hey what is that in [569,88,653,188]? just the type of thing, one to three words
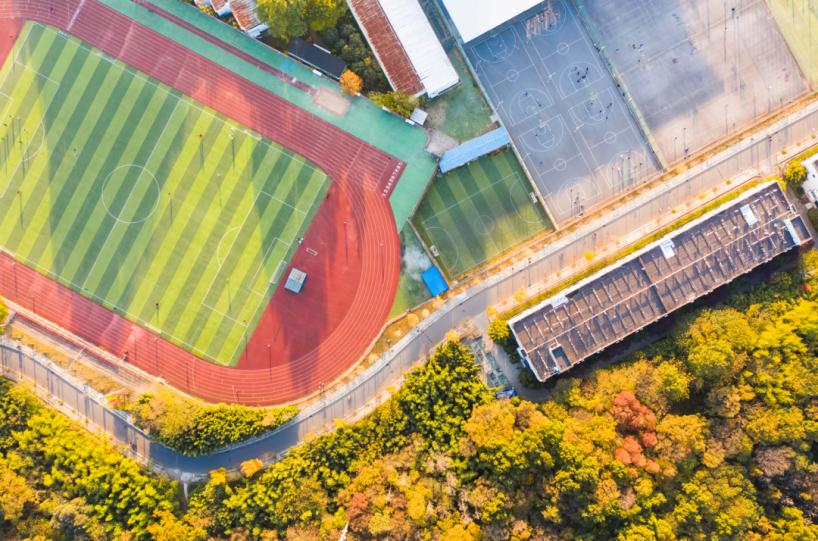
basketball court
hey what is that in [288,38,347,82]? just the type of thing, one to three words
building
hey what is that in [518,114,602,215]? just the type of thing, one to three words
basketball court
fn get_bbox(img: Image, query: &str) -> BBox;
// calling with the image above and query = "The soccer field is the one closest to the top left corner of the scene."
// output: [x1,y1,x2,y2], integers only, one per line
[0,20,332,368]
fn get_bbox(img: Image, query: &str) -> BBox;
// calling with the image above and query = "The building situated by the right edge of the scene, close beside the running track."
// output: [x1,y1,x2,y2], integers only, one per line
[506,184,813,382]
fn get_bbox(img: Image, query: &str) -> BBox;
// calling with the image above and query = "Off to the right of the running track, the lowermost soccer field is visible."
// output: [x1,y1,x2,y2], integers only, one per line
[411,141,556,288]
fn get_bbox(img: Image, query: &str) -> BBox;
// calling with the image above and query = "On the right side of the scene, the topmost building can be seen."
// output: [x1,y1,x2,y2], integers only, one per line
[439,0,551,46]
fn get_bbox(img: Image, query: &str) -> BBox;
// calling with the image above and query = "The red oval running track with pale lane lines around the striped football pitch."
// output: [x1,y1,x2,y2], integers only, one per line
[0,0,406,408]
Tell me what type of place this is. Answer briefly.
sports ground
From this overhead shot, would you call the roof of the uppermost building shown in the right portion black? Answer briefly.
No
